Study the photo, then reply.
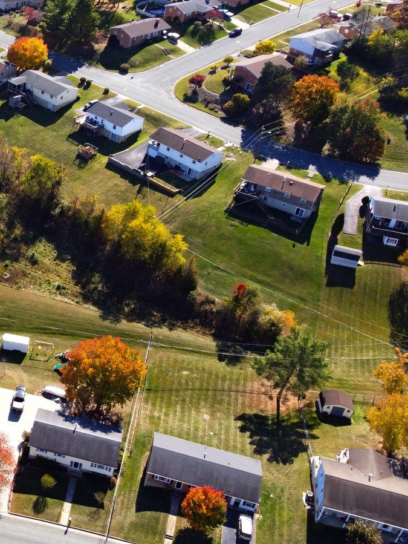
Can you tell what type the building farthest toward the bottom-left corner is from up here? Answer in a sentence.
The building farthest toward the bottom-left corner appears to be a home.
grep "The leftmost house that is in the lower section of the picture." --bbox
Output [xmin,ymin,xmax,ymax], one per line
[28,410,123,483]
